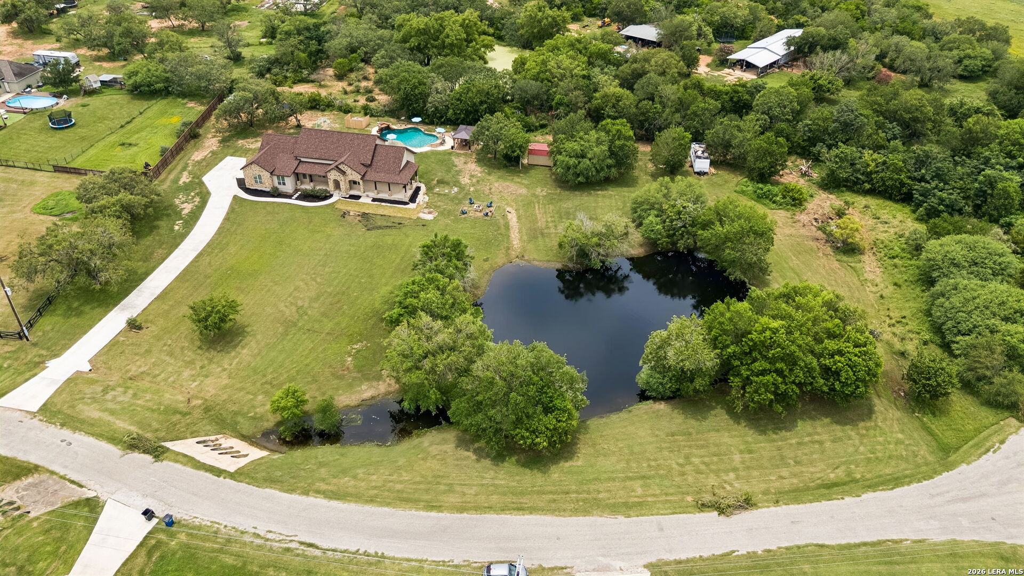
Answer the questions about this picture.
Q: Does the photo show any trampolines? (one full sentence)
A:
Yes, there's a trampoline down there.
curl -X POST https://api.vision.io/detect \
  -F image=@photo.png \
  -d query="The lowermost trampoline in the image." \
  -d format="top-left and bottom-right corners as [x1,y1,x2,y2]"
[45,105,76,129]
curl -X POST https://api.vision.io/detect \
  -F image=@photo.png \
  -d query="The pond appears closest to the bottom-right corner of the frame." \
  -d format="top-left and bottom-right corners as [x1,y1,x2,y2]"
[480,251,746,419]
